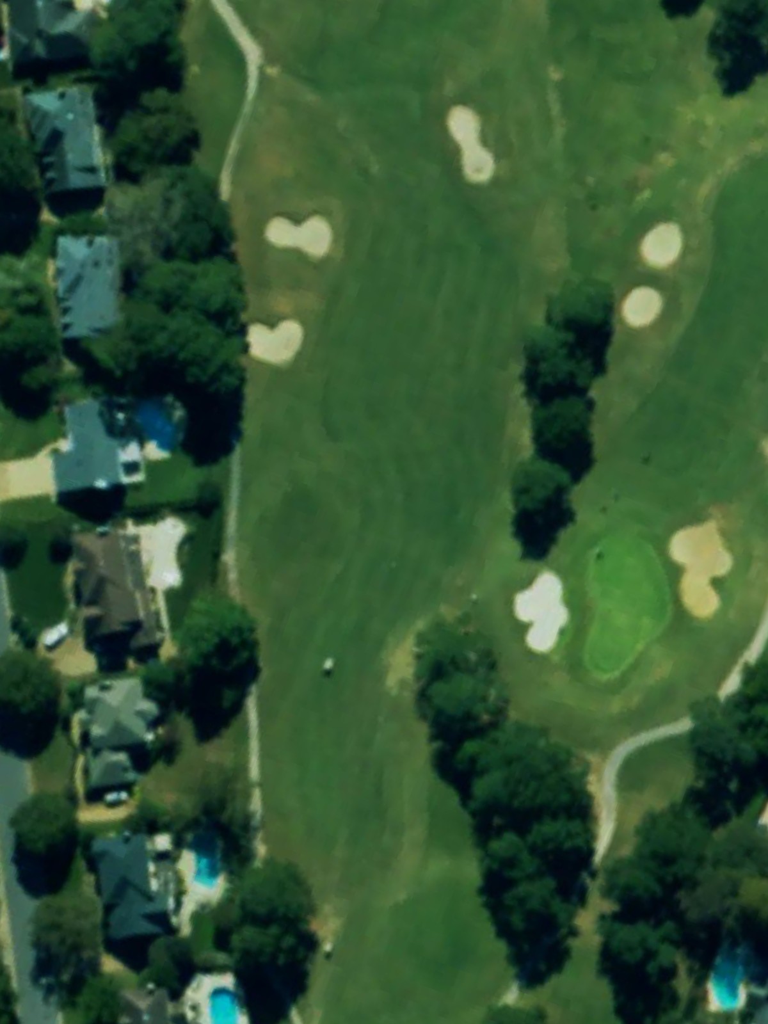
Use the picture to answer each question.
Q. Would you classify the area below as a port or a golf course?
golf course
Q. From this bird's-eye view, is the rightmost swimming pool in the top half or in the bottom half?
bottom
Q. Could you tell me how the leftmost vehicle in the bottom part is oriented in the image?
on a diagonal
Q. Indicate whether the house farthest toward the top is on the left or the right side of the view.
left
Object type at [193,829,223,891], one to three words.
swimming pool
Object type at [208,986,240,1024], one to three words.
swimming pool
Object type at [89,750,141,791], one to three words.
building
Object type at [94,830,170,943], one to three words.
house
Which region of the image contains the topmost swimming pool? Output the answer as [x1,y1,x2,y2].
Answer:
[136,399,178,450]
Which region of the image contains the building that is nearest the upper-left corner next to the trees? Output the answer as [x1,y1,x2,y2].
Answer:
[9,0,95,64]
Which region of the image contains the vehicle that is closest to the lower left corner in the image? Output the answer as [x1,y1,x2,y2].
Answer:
[104,792,128,804]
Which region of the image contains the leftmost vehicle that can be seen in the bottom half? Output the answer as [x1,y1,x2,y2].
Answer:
[43,622,68,647]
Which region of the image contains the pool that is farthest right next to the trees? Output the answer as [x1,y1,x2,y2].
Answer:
[713,951,741,1010]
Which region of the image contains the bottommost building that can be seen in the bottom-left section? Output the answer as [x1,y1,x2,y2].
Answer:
[114,982,170,1024]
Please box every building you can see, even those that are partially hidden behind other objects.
[154,832,173,852]
[89,750,141,791]
[9,0,95,64]
[22,88,103,191]
[94,830,170,943]
[54,394,127,492]
[82,680,161,748]
[54,236,120,337]
[69,521,166,647]
[114,982,170,1024]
